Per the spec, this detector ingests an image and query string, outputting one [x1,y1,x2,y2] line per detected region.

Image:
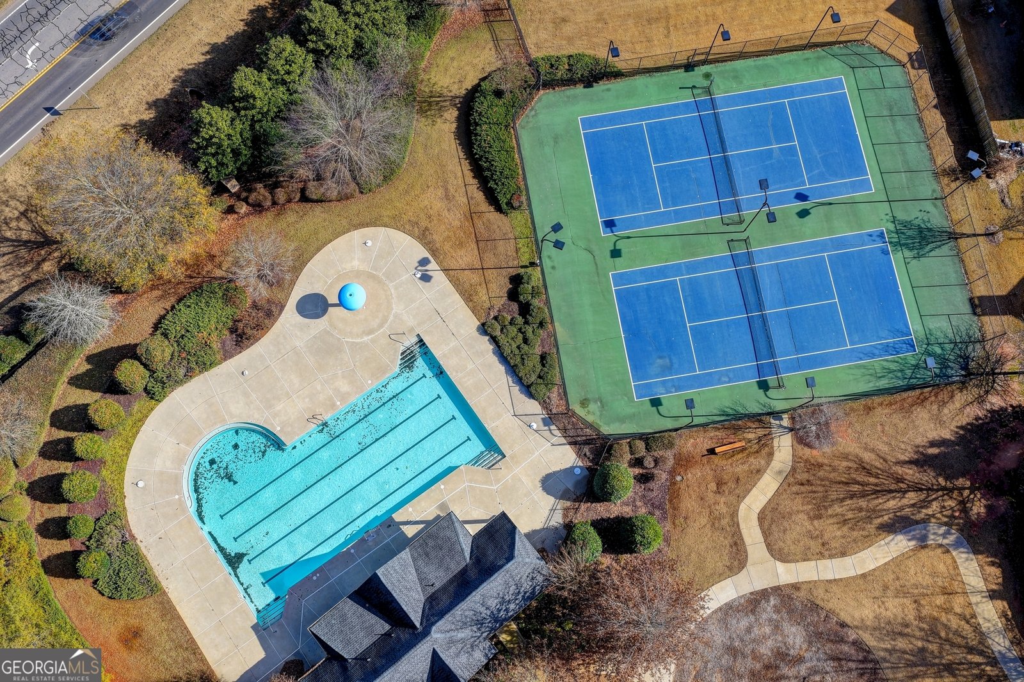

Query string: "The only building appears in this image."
[301,509,552,682]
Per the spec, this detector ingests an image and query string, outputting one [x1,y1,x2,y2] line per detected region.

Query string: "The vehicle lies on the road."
[82,6,134,52]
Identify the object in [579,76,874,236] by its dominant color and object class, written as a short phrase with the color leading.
blue tennis court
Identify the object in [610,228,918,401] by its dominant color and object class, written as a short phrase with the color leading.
blue tennis court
